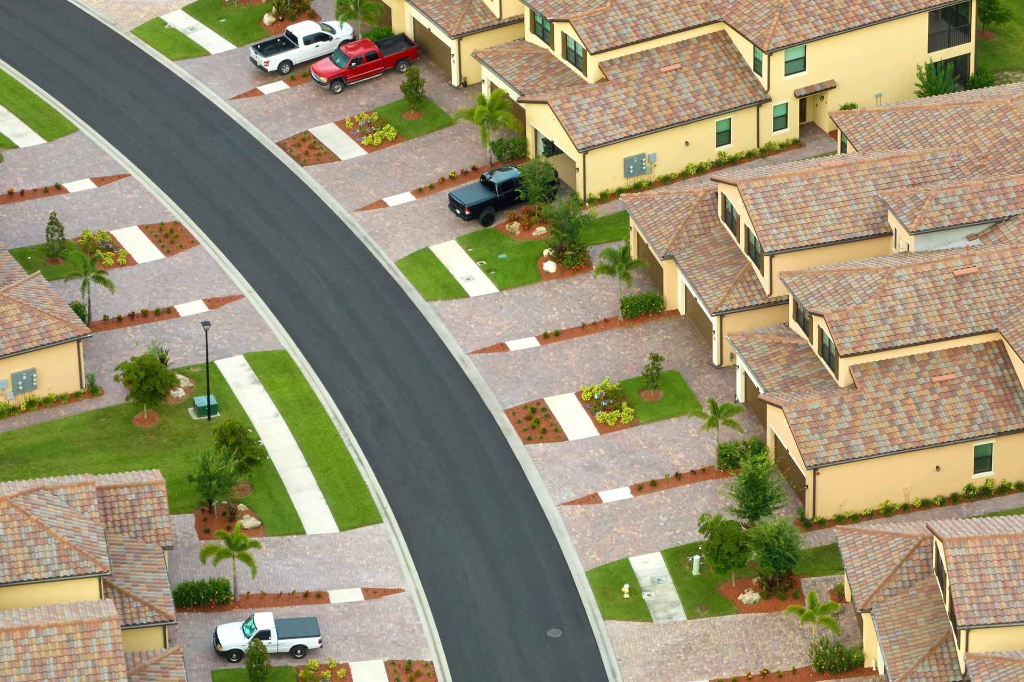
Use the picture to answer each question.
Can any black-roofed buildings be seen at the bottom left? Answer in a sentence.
No, looking at the bottom left, there is no black-roofed building.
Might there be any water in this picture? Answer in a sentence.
No, the scene doesn't show any water.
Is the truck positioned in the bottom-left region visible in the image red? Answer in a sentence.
No, the truck positioned in the bottom-left region is white.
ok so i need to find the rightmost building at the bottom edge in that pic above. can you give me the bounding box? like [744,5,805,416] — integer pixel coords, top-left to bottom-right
[833,515,1024,682]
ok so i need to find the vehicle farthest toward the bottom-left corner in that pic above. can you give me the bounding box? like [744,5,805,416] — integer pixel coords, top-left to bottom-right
[214,612,325,663]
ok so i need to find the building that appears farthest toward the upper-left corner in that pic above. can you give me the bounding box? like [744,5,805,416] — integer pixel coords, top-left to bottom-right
[0,234,96,410]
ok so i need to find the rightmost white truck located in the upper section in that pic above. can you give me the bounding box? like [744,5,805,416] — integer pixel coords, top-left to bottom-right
[248,21,356,75]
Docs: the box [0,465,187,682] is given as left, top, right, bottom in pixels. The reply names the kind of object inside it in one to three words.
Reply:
building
